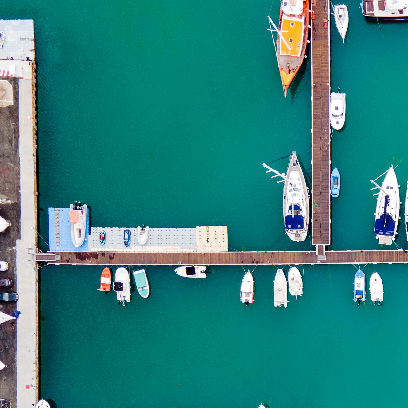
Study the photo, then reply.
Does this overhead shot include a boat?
Yes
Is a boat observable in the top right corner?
Yes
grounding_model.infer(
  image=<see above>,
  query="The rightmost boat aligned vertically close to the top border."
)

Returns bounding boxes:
[331,1,349,43]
